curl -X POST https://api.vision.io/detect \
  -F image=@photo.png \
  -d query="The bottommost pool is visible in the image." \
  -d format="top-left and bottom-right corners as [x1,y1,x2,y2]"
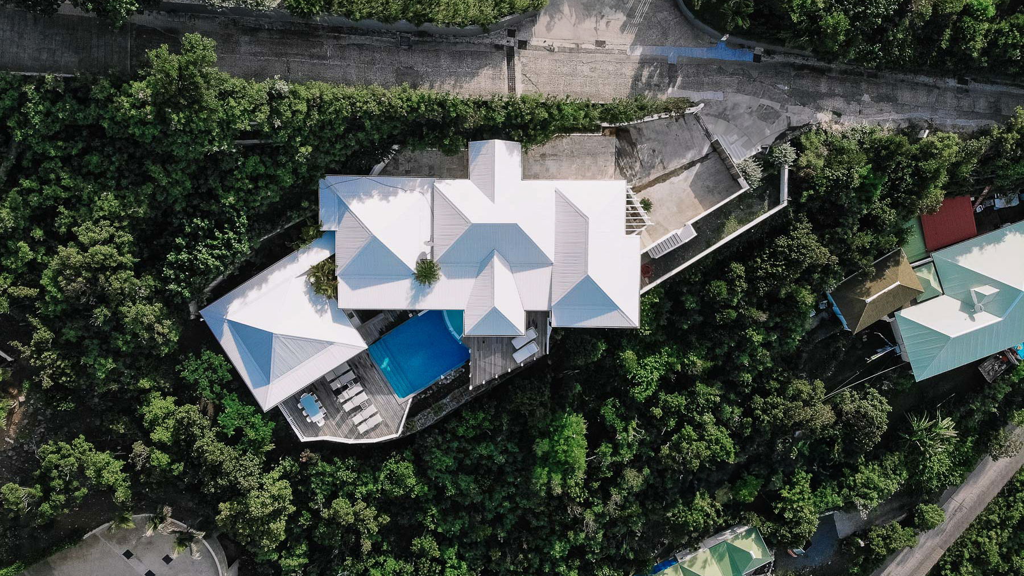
[645,552,677,576]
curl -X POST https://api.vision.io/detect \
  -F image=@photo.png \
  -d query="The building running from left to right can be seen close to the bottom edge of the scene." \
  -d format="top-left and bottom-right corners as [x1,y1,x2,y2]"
[653,523,773,576]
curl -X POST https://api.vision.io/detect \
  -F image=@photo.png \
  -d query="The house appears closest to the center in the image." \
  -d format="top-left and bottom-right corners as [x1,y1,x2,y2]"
[317,140,642,338]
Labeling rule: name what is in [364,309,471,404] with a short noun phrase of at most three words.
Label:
swimming pool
